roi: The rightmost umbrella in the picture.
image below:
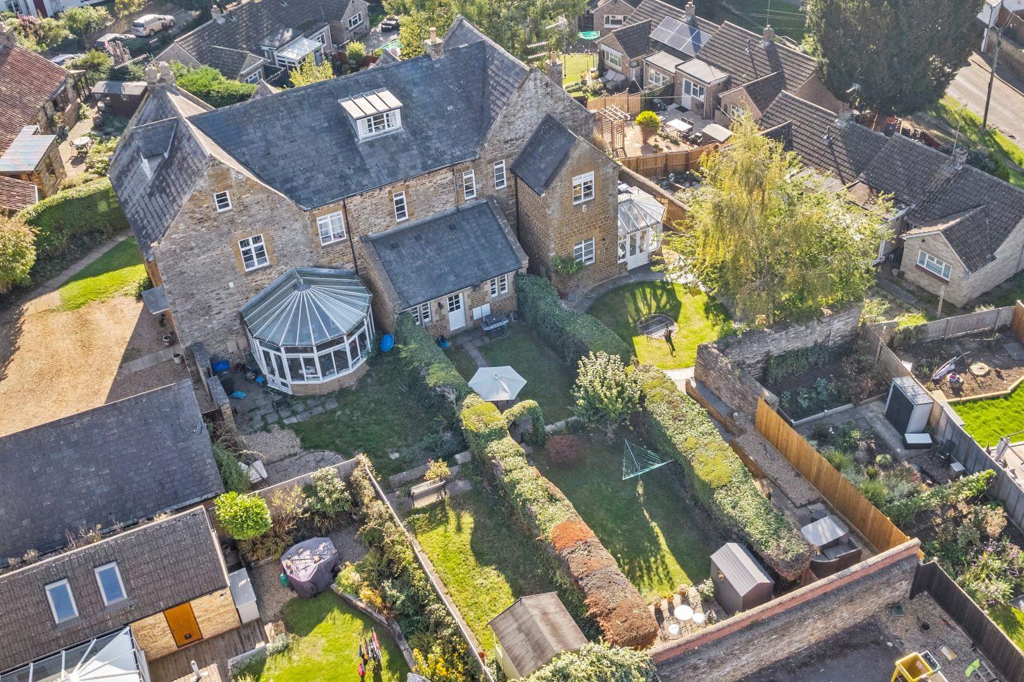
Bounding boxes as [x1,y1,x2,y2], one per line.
[939,356,958,386]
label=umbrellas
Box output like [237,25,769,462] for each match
[466,366,529,406]
[939,356,958,386]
